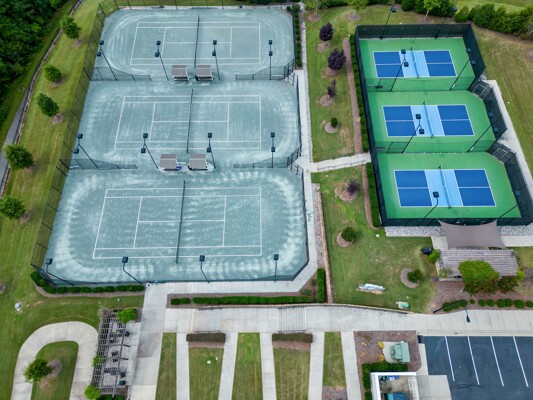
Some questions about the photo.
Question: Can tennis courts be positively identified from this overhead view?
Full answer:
Yes, there's a tennis court down there.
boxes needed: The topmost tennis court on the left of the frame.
[91,7,297,80]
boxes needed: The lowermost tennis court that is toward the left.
[43,166,310,285]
